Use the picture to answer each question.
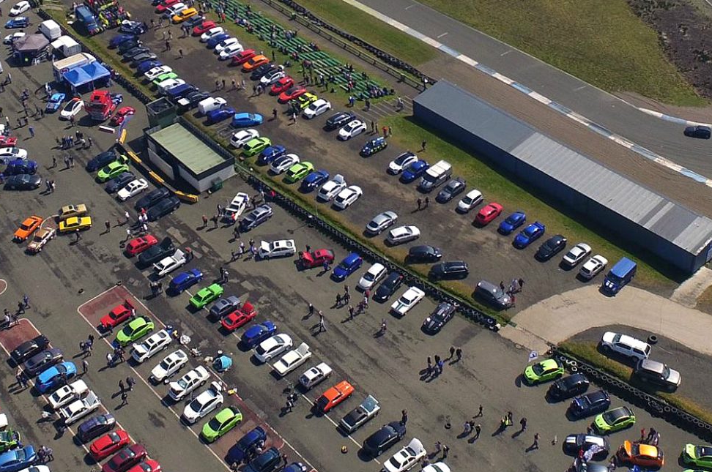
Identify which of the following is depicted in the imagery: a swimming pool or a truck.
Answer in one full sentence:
The one in the frame is a truck.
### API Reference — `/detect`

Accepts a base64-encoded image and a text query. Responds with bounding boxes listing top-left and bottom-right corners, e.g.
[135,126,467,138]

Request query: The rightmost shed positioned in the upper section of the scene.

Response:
[411,79,712,274]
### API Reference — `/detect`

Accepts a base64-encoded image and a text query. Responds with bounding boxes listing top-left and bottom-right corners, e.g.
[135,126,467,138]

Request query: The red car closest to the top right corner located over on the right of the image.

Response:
[476,201,506,225]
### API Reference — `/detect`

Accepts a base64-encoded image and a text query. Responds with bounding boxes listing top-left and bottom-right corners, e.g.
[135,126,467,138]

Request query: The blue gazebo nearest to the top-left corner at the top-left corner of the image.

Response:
[61,61,113,99]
